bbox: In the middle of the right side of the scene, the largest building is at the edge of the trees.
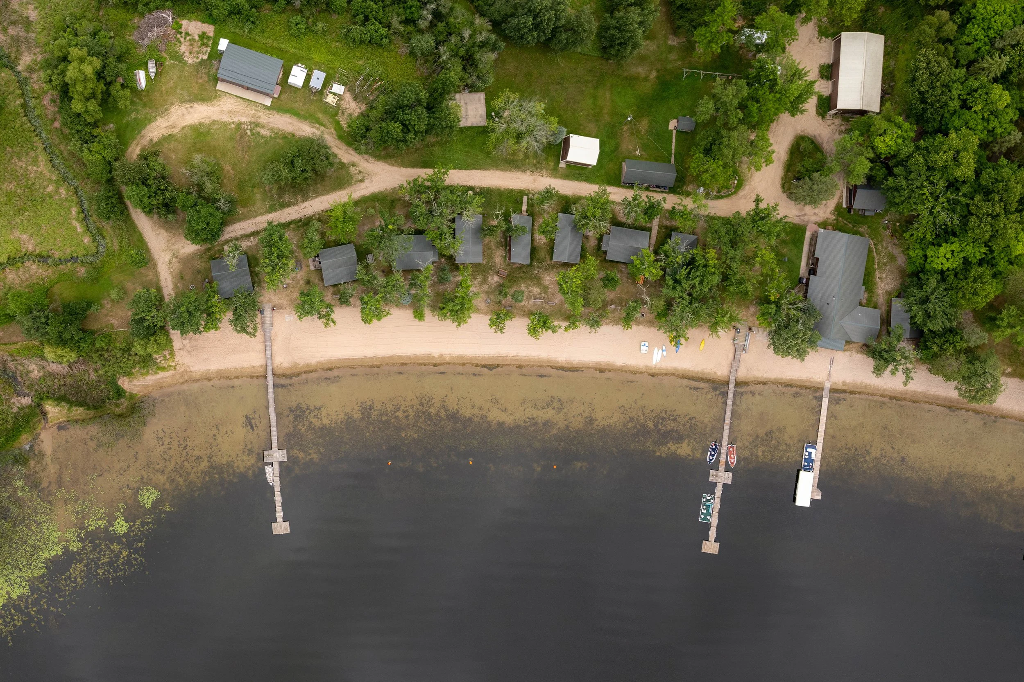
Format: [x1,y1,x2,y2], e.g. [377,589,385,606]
[804,230,881,351]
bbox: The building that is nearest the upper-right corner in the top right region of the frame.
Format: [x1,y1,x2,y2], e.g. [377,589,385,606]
[829,29,884,121]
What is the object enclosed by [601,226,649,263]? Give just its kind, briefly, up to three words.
building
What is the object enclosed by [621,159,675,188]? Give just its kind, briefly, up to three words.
building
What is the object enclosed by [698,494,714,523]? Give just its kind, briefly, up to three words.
boat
